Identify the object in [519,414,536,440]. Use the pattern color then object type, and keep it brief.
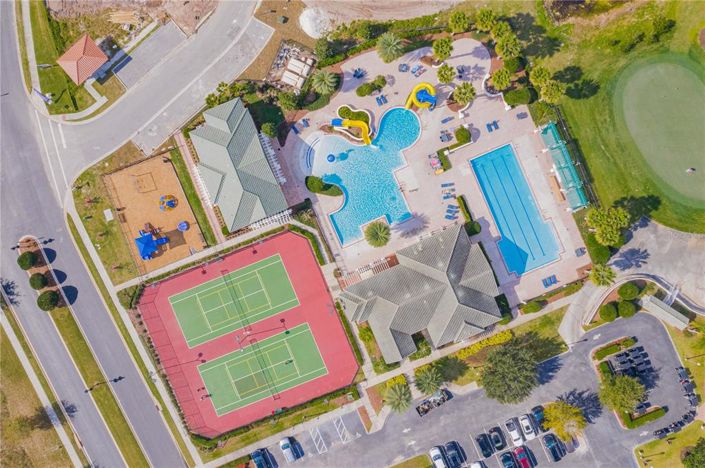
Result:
white car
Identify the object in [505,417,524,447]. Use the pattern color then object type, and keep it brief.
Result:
white vehicle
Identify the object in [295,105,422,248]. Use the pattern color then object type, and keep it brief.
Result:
blue swimming pool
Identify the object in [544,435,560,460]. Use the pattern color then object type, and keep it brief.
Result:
blue car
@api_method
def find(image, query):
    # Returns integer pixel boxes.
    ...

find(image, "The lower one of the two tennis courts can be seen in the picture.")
[167,301,360,437]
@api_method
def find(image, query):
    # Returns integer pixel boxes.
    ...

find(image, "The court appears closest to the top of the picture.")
[139,231,335,368]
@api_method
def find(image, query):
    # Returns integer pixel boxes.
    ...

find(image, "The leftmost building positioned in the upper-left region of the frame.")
[56,32,114,87]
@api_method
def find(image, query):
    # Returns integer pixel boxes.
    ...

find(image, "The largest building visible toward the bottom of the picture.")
[339,224,502,363]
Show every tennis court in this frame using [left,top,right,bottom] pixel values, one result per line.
[167,301,360,437]
[139,231,335,368]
